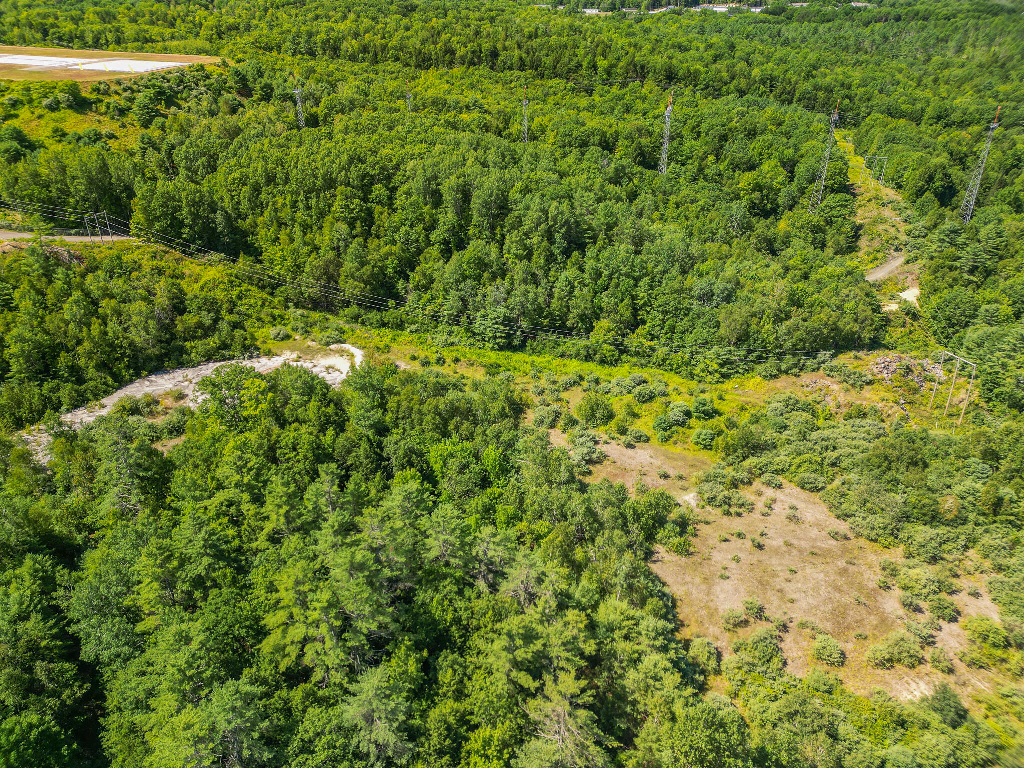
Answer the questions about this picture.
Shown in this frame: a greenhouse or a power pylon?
power pylon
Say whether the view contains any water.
No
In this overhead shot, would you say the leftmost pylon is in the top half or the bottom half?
top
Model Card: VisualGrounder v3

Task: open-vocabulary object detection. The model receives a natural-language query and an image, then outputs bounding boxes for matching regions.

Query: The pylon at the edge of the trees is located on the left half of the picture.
[81,210,114,246]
